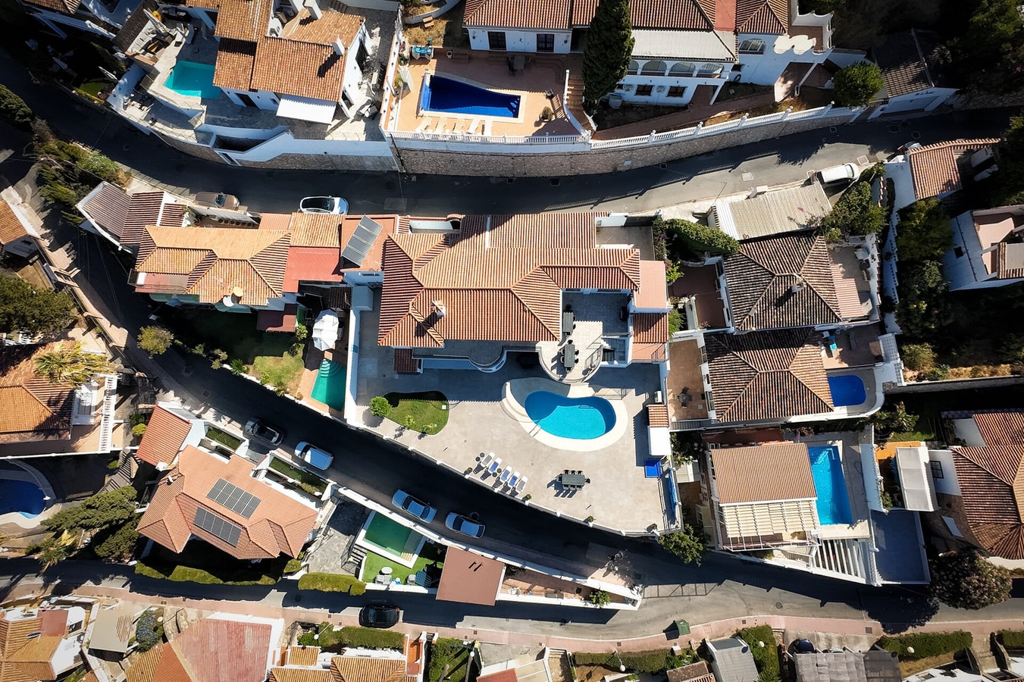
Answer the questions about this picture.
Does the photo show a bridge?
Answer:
No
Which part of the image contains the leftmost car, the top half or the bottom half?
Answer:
top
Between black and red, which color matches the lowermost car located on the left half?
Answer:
black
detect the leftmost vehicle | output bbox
[193,189,242,212]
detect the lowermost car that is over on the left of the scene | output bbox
[358,603,402,628]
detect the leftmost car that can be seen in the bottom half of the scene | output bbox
[243,416,287,451]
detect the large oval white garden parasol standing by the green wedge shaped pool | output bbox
[315,312,341,350]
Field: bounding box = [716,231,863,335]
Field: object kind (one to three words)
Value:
house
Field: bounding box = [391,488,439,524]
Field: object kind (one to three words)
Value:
car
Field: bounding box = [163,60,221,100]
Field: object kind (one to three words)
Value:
swimming pool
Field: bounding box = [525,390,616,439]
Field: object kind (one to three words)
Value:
swimming pool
